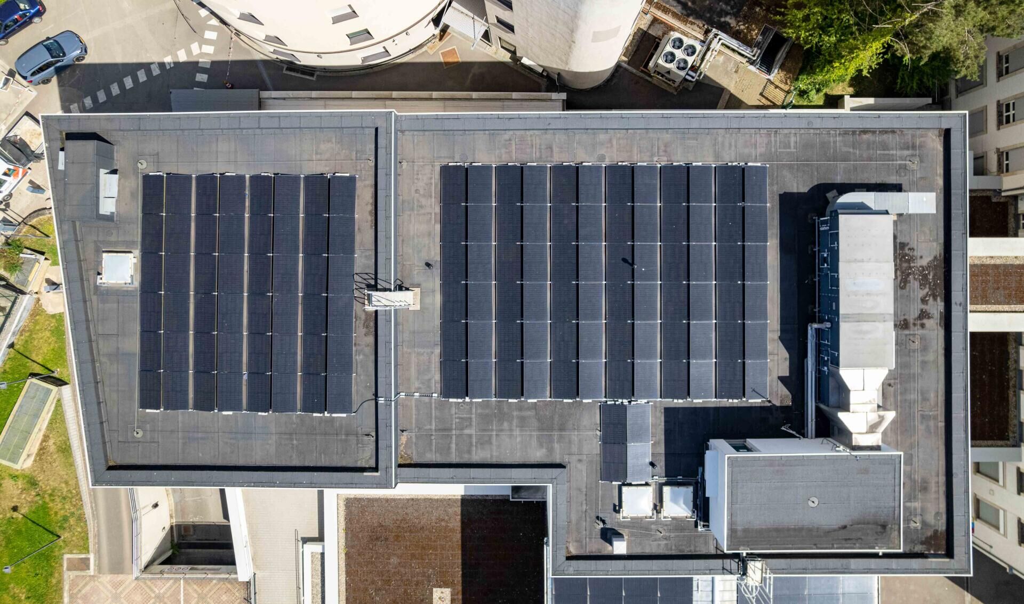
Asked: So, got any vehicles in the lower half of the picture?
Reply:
No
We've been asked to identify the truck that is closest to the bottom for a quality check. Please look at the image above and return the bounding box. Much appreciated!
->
[0,108,43,195]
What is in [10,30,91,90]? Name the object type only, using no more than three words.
car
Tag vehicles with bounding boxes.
[10,30,91,90]
[0,0,48,50]
[0,108,43,195]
